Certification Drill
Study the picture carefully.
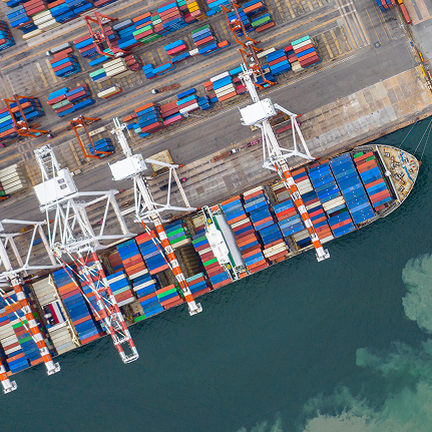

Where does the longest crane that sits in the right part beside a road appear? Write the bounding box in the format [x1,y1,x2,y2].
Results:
[234,60,330,265]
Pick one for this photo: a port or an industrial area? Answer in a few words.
port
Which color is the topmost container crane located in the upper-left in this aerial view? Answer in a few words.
red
